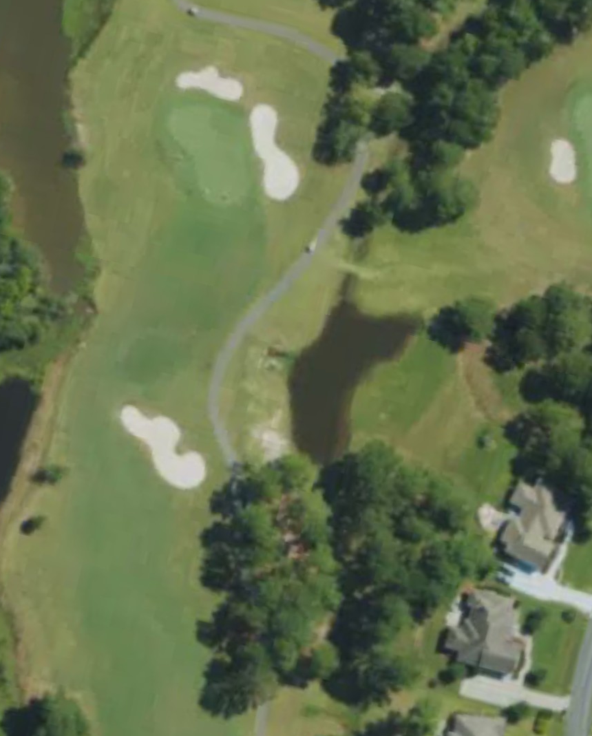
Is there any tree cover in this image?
Yes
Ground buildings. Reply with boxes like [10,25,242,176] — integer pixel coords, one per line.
[494,478,564,574]
[442,590,526,676]
[448,713,508,736]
